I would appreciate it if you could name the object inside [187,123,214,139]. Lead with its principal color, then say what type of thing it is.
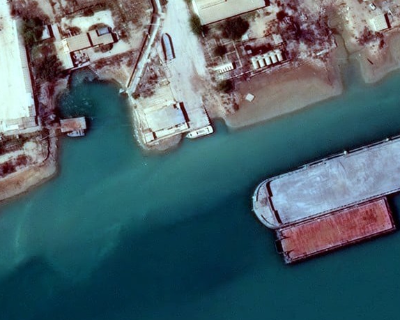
white boat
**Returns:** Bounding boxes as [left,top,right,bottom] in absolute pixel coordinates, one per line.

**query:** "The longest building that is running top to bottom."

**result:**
[12,22,37,120]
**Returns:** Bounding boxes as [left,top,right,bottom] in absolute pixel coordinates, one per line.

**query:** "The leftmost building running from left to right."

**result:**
[2,117,38,131]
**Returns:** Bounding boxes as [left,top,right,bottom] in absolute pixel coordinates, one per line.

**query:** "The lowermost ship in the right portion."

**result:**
[276,196,397,262]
